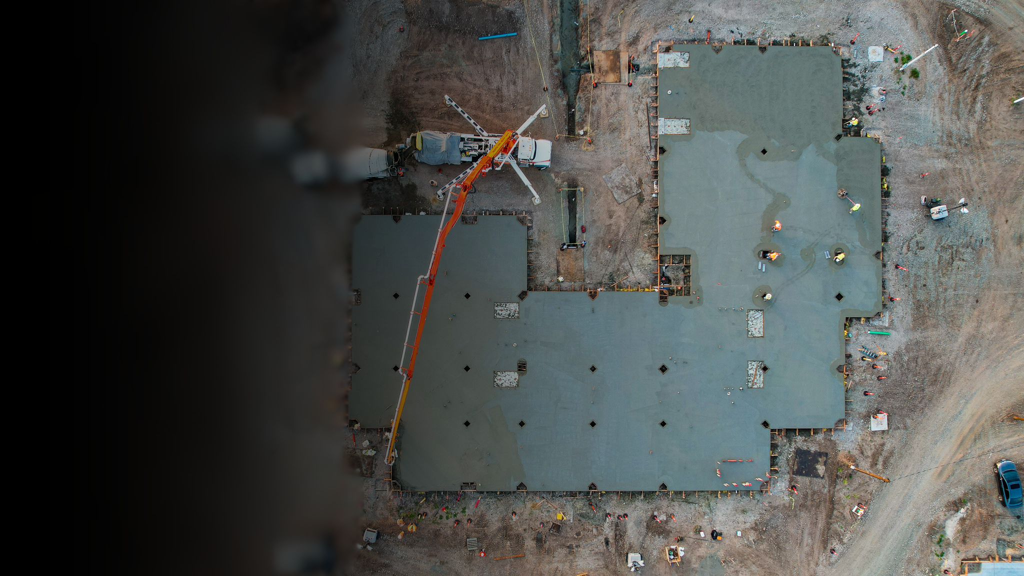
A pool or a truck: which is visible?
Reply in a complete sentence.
Of the two, only a truck appears.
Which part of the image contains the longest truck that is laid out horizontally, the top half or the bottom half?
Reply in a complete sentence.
It is in the top half that the longest truck that is laid out horizontally appears.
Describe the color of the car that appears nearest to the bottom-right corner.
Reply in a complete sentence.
The car that appears nearest to the bottom-right corner is blue.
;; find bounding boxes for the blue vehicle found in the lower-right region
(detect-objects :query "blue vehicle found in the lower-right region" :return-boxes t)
[995,458,1024,512]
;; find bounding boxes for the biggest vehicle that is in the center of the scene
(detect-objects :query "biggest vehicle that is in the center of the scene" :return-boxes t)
[383,96,554,465]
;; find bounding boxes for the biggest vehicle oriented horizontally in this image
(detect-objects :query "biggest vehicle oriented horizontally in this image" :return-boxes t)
[290,144,417,186]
